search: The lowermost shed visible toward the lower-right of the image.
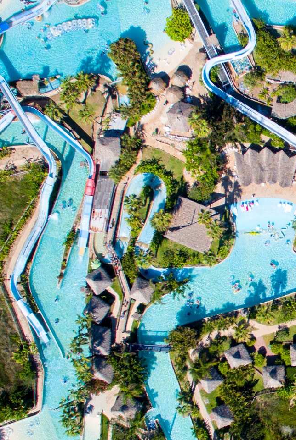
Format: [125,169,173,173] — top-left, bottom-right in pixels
[209,402,237,429]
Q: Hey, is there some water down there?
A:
Yes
